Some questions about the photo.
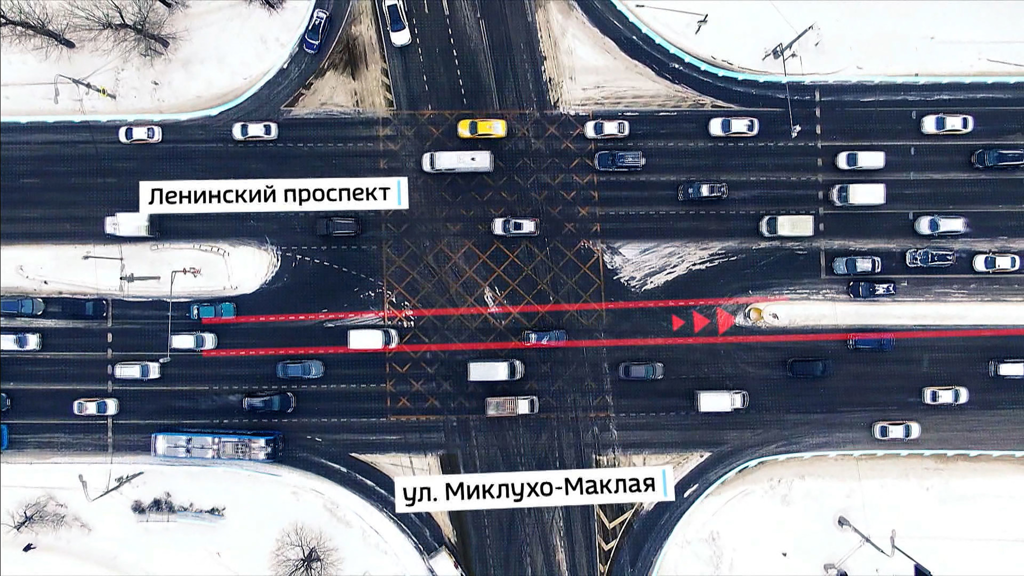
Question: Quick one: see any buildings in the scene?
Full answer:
No, no building can be seen from above.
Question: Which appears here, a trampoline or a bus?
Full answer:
There is a bus in the scene.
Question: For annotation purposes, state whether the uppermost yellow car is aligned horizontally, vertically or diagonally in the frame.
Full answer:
The uppermost yellow car runs horizontally in the image.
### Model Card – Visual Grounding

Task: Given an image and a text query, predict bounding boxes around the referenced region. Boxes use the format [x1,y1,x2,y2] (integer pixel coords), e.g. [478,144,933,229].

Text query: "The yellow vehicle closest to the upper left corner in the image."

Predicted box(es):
[457,117,507,139]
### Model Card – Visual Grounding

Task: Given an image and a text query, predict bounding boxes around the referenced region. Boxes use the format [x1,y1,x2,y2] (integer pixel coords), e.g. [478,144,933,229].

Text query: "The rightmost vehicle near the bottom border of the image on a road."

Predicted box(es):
[433,539,477,576]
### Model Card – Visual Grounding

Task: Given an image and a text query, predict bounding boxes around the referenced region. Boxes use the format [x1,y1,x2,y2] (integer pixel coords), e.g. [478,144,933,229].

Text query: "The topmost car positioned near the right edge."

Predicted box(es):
[919,113,974,134]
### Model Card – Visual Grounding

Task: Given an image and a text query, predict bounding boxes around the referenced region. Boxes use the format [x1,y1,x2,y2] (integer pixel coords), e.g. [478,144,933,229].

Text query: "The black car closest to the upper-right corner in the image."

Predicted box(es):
[968,148,1024,170]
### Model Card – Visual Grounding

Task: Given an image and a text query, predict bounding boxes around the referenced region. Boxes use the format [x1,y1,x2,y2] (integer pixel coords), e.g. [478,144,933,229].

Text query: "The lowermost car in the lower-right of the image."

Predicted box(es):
[870,420,920,441]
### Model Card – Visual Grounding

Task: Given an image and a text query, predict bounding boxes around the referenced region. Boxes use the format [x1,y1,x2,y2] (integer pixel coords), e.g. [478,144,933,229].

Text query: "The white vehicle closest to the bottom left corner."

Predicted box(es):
[71,397,121,418]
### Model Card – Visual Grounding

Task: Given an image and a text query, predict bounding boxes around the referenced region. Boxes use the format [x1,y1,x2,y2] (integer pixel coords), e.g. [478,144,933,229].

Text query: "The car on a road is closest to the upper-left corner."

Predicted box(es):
[118,123,164,145]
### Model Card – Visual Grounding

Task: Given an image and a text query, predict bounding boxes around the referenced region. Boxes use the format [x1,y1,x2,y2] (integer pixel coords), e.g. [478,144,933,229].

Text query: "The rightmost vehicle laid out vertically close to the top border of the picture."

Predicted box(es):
[383,0,410,49]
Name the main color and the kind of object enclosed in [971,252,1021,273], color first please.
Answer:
white car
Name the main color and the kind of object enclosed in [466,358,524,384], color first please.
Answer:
white vehicle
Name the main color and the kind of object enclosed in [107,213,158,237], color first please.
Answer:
white truck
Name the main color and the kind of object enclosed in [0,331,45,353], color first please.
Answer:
white car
